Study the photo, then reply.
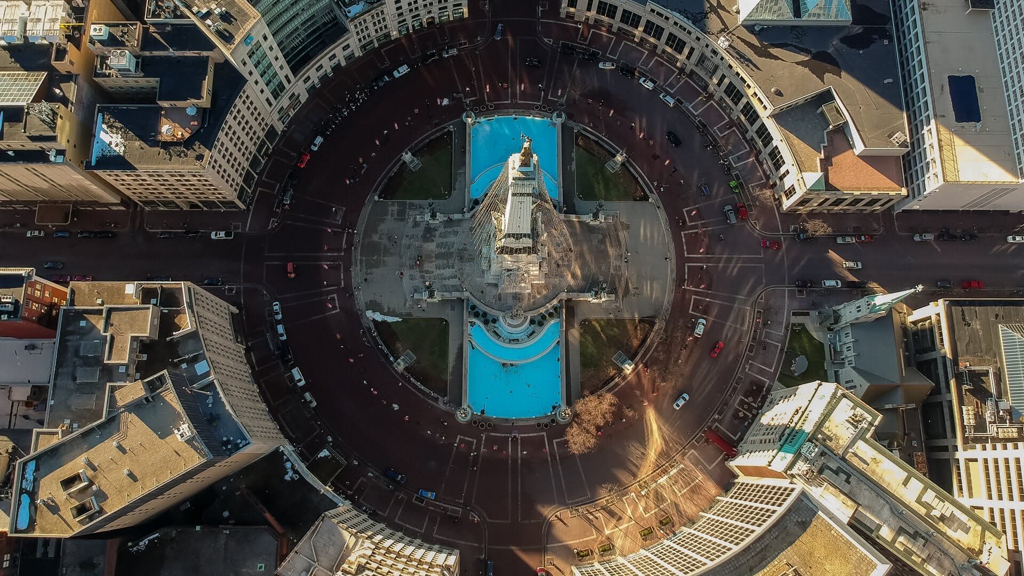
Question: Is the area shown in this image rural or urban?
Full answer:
It looks urban.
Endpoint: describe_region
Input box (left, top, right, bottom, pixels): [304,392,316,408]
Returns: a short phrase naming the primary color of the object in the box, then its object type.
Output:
gray vehicle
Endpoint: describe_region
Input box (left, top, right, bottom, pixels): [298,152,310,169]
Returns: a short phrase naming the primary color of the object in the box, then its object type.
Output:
red vehicle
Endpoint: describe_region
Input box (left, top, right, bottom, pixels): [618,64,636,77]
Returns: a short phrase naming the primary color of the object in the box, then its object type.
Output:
black vehicle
